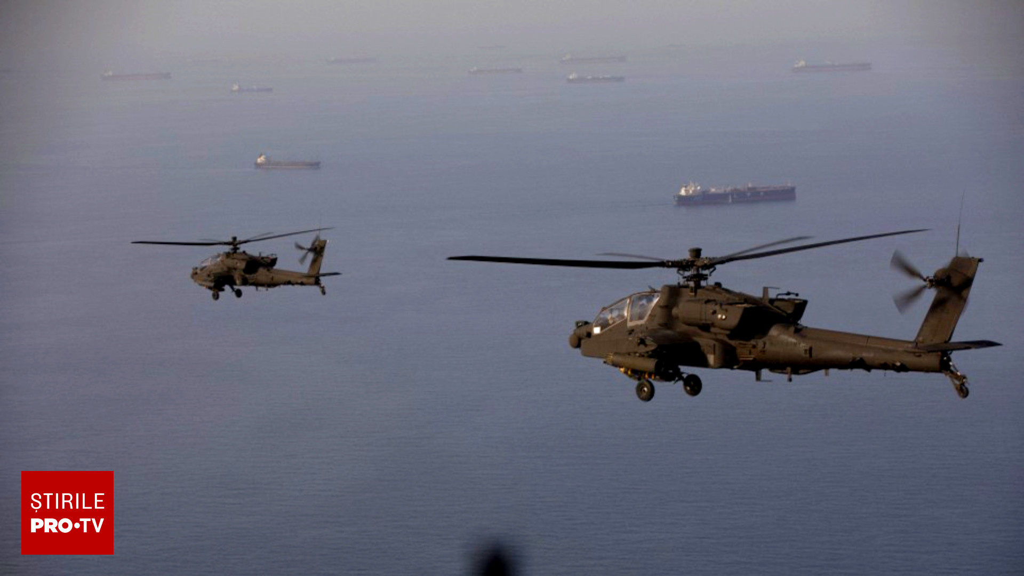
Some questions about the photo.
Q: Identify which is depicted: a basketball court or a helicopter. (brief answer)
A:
helicopter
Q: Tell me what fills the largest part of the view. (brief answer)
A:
water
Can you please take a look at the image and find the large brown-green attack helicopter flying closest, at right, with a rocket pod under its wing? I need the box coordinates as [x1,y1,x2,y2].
[447,191,1006,402]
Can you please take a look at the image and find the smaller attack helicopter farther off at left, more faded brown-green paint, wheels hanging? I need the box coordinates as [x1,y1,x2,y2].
[131,217,339,301]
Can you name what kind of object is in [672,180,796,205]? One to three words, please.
ship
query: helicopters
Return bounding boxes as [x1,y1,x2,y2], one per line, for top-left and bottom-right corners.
[131,217,339,301]
[447,191,1006,402]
